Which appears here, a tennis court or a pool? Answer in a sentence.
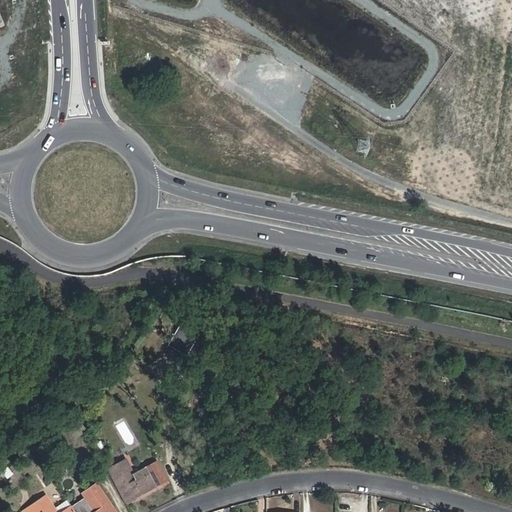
Of the two, only a pool appears.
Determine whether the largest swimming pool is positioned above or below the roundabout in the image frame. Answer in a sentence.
Looking at the scene, the largest swimming pool is located below the roundabout.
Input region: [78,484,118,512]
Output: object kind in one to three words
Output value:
house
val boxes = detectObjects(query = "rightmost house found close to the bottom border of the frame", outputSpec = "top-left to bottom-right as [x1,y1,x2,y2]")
[108,460,166,504]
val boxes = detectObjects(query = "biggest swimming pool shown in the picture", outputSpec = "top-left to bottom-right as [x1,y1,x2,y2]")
[114,418,140,454]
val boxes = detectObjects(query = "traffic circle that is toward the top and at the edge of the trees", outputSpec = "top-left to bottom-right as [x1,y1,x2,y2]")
[0,118,159,269]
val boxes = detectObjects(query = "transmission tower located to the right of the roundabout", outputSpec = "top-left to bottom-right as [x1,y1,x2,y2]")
[356,136,372,154]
